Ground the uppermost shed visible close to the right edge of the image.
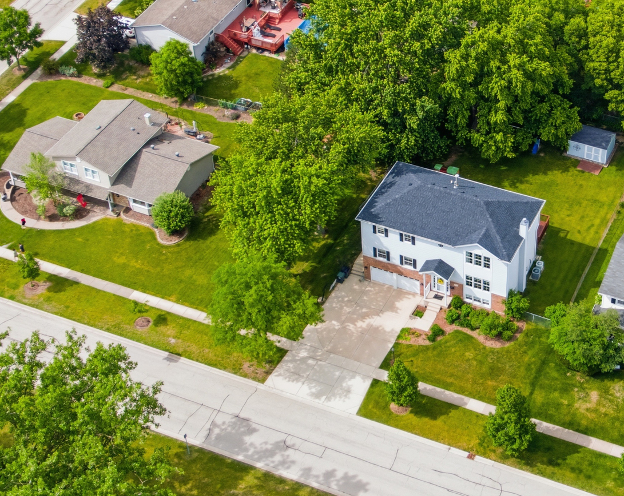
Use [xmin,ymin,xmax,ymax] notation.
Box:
[562,123,619,175]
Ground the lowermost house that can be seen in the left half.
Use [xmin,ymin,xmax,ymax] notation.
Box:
[0,97,221,221]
